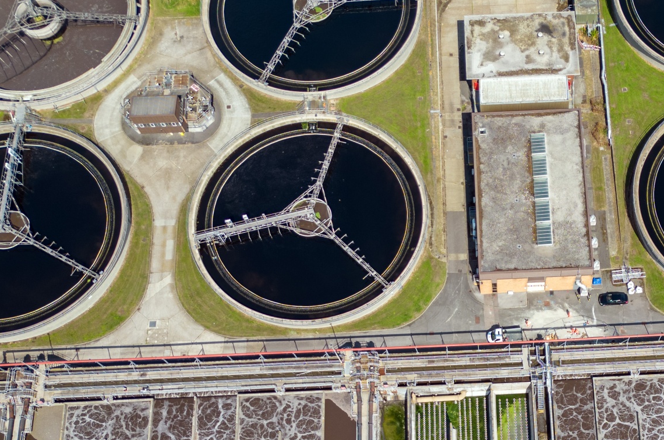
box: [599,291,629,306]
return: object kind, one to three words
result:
car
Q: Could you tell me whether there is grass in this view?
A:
Yes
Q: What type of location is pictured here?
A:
industrial area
